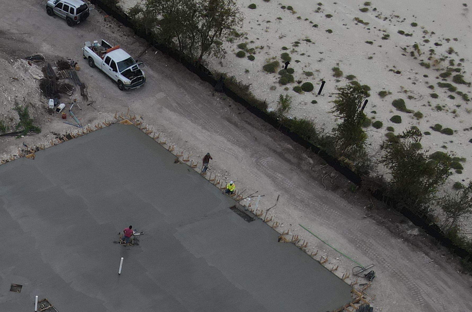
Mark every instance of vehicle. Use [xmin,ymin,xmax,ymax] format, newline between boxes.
[45,0,91,27]
[82,40,148,91]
